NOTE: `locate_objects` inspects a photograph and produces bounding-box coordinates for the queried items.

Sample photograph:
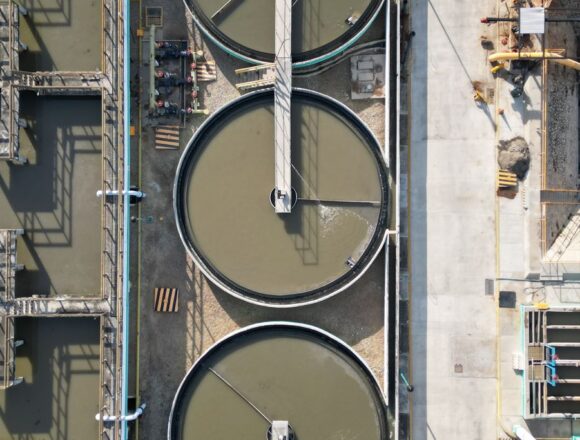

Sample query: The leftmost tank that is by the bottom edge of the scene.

[169,319,386,440]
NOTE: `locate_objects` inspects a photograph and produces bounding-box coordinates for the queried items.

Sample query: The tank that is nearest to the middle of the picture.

[173,88,390,306]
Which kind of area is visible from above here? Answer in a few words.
industrial area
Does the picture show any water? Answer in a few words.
Yes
